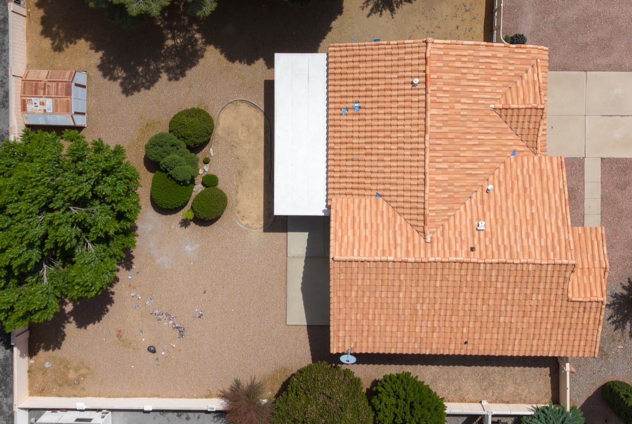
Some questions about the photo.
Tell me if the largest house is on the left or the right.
right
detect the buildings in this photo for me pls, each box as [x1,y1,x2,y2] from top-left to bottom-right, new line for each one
[326,39,609,357]
[21,70,86,125]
